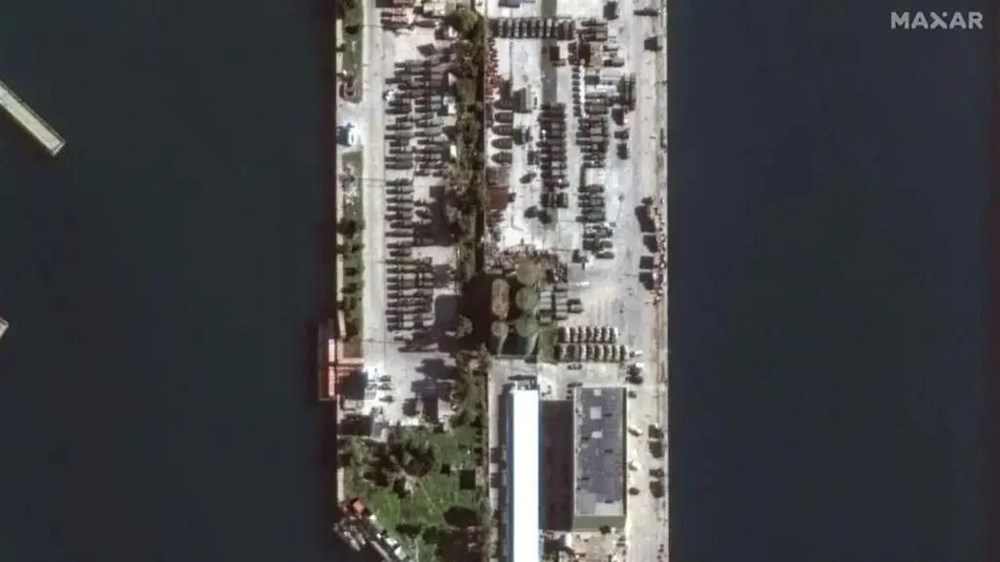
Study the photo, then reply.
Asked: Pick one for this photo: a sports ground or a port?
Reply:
port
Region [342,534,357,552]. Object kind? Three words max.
boat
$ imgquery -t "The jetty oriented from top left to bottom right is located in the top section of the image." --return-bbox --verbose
[0,82,67,157]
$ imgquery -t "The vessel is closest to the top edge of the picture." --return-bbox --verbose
[318,323,335,405]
